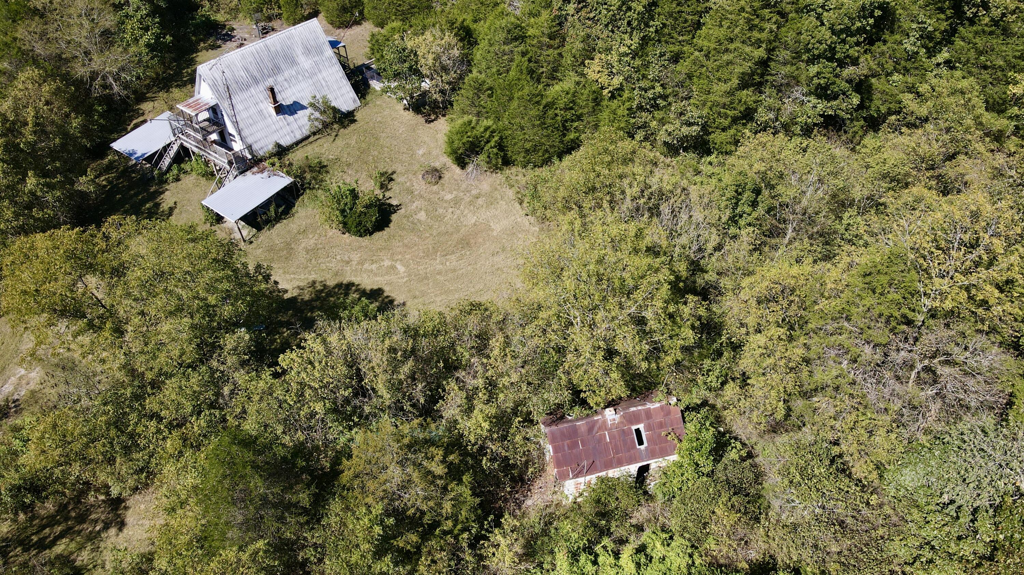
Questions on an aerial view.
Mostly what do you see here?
trees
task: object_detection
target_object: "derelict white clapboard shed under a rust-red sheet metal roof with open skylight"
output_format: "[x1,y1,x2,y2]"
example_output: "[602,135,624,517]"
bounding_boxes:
[537,401,685,500]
